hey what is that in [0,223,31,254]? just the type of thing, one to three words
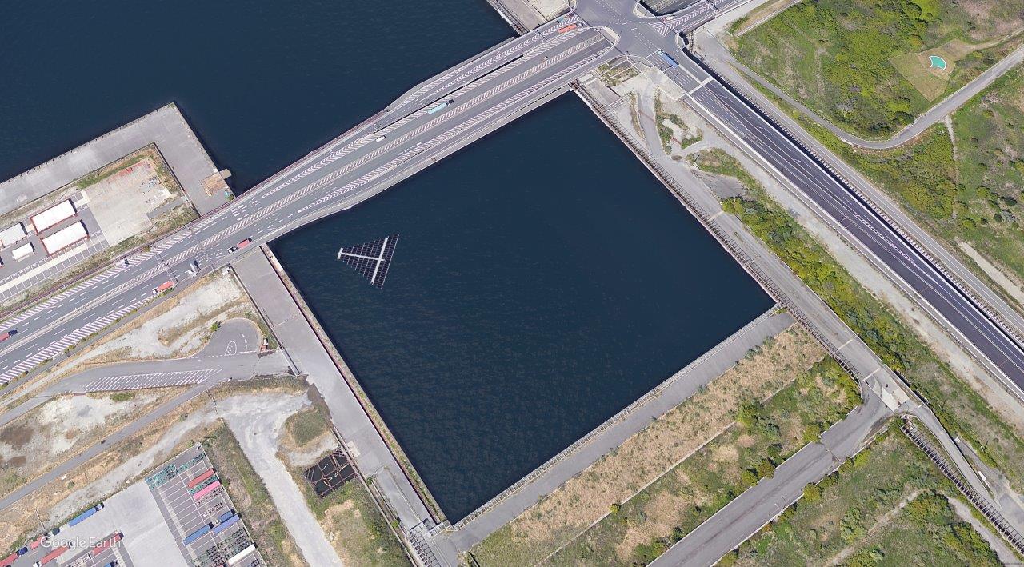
building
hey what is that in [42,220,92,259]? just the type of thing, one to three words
building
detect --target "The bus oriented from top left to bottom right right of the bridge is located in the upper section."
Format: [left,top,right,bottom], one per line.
[657,51,679,71]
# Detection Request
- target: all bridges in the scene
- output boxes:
[219,10,626,244]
